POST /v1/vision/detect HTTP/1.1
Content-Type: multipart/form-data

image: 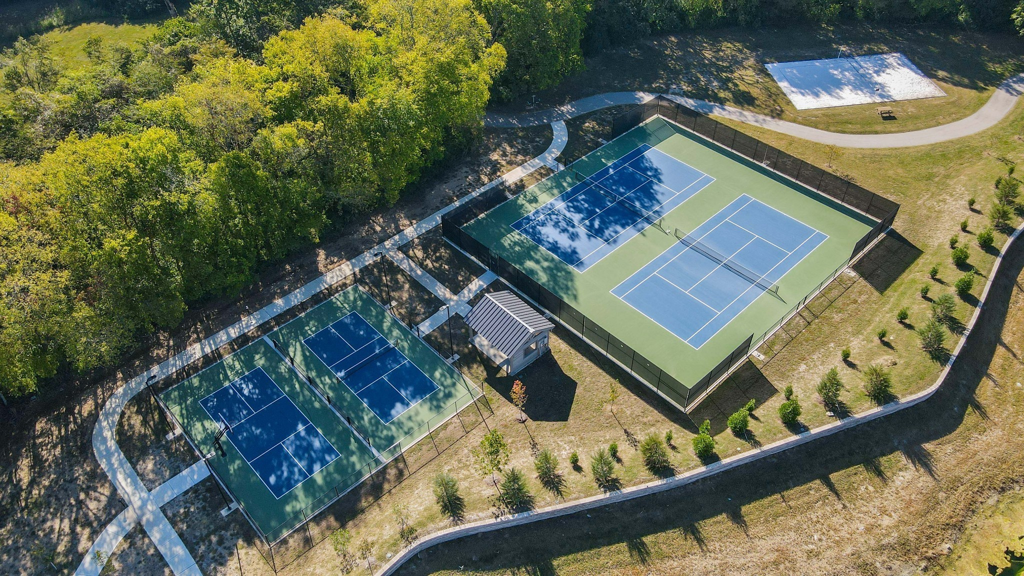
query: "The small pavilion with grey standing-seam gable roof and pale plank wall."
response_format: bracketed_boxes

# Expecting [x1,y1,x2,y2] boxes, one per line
[463,290,556,376]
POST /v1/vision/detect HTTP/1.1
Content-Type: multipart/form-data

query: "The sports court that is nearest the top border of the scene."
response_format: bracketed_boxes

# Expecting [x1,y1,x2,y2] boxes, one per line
[763,52,948,111]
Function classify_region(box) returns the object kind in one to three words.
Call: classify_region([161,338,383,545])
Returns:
sports court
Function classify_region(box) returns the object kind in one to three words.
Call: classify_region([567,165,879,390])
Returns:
tennis court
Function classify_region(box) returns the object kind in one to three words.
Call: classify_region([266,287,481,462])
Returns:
sports court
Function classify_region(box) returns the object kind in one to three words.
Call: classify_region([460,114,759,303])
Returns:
tennis court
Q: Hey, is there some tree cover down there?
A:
Yes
